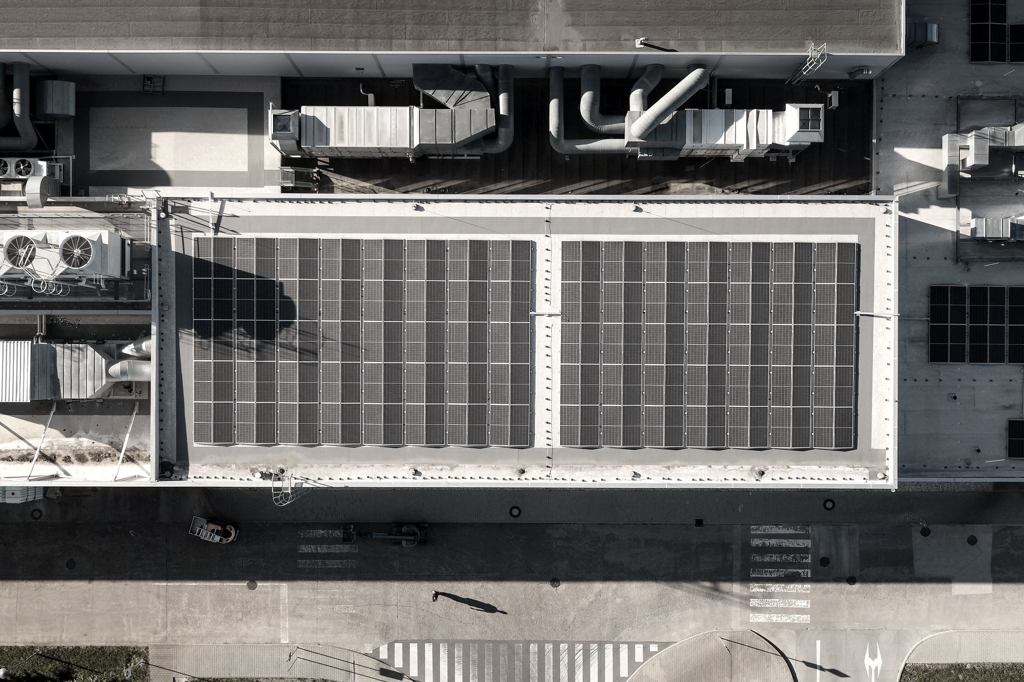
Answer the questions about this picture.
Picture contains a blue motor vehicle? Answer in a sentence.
No, the picture doesn't show any blue motor vehicle.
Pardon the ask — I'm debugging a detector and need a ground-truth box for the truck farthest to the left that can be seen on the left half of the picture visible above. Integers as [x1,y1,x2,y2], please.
[183,516,238,545]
